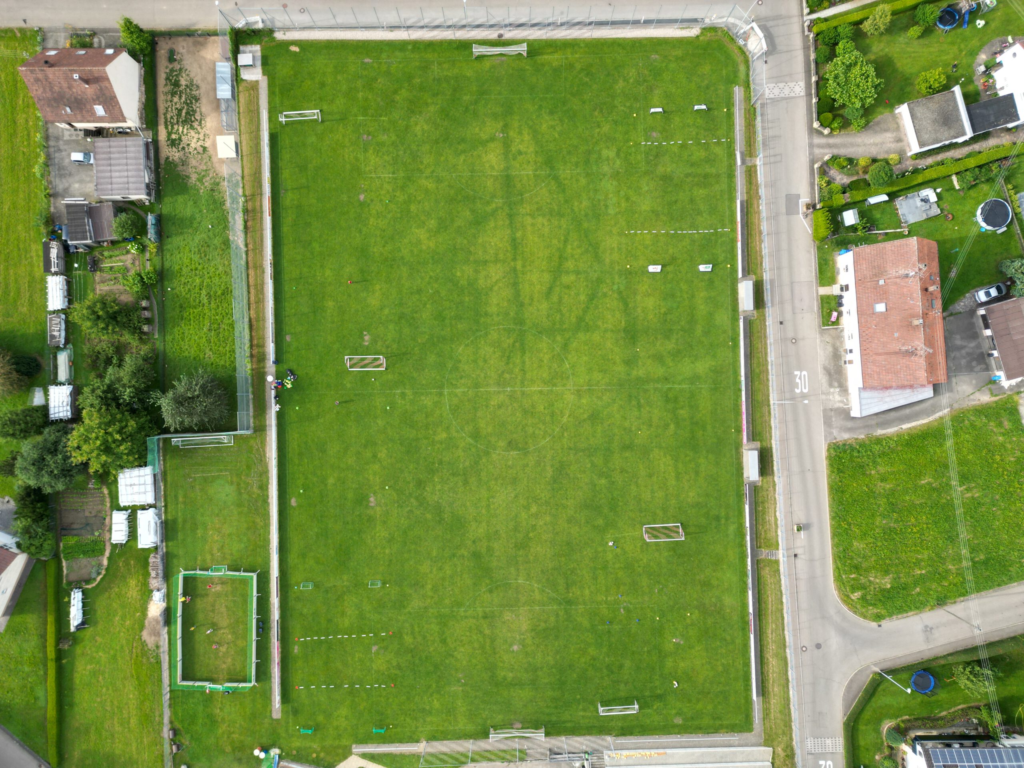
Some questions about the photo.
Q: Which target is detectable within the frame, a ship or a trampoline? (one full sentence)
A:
Looking from above, you can make out a trampoline.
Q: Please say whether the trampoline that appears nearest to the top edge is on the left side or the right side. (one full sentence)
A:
The trampoline that appears nearest to the top edge is on the right side of the image.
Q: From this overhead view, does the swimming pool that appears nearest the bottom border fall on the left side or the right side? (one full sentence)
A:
The swimming pool that appears nearest the bottom border is on the right side of the image.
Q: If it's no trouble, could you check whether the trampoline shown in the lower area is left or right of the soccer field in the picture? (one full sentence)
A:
The trampoline shown in the lower area can be seen on the right of the soccer field.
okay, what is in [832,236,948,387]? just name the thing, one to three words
house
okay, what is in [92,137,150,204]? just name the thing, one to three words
building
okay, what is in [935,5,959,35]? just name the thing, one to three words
trampoline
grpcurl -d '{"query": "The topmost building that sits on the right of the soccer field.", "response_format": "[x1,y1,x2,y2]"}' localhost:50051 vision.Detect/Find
[992,37,1024,97]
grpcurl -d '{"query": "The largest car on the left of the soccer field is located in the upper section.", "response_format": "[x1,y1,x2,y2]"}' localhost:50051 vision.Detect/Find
[67,149,94,165]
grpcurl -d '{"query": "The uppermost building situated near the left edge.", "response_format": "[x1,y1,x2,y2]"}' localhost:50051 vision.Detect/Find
[19,49,141,129]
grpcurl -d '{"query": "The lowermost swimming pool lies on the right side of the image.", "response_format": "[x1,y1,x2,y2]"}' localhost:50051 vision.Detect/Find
[972,200,1013,233]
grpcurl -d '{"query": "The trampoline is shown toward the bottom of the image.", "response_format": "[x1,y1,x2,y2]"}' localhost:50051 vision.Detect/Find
[912,670,941,701]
